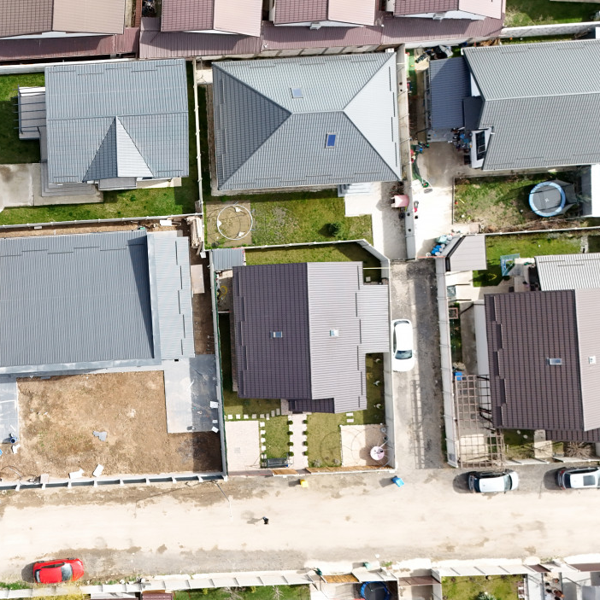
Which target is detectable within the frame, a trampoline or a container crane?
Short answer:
trampoline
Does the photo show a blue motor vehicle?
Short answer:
No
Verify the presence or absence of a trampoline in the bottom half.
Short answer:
Yes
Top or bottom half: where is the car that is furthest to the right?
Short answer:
bottom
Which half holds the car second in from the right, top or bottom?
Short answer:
bottom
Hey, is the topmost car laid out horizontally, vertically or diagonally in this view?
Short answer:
vertically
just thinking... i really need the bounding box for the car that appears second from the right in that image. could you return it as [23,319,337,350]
[466,469,517,496]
